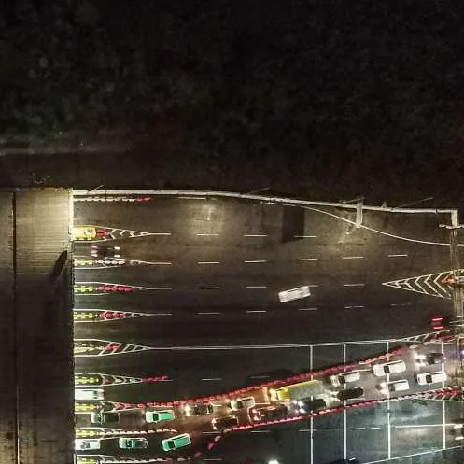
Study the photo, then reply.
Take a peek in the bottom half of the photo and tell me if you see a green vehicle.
Yes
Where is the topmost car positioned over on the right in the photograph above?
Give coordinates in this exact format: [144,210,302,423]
[277,286,310,301]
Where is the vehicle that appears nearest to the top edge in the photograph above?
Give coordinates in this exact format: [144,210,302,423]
[90,244,120,258]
